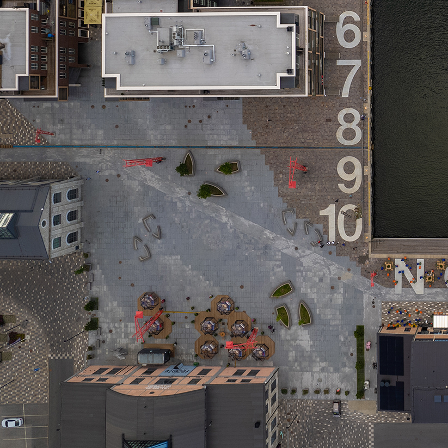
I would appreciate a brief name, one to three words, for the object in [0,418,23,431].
vehicle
